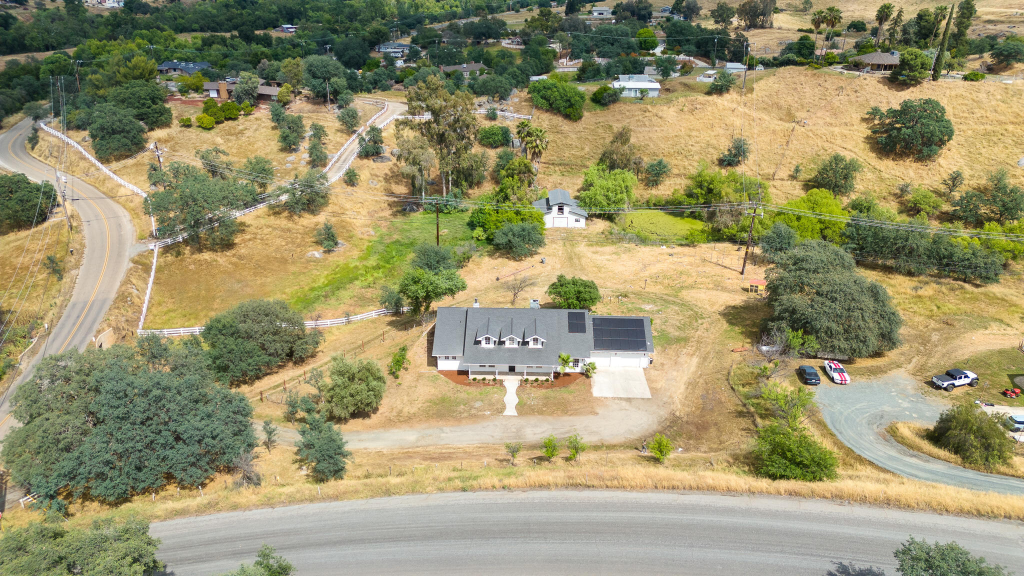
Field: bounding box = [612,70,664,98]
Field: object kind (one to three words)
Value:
house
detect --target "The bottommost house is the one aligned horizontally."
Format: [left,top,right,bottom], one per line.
[431,292,655,385]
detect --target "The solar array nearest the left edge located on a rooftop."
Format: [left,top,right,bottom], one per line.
[567,313,585,334]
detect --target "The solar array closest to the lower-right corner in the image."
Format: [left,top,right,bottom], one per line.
[594,320,649,352]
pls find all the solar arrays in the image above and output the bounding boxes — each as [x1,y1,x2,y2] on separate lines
[567,313,585,334]
[594,320,649,352]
